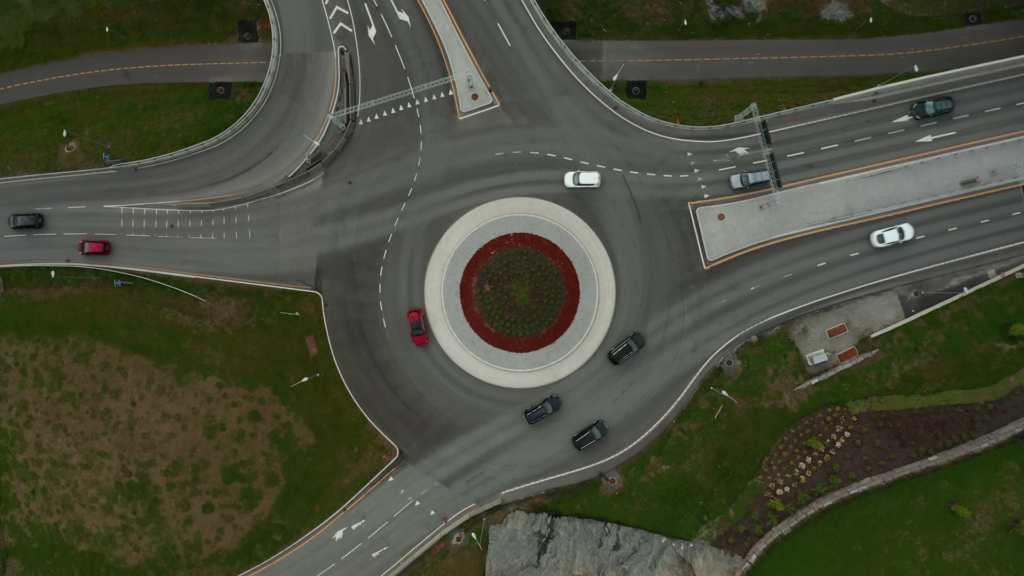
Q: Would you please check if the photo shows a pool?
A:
No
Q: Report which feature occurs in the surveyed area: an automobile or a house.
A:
automobile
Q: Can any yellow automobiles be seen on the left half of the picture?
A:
No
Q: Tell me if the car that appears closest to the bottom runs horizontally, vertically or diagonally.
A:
diagonally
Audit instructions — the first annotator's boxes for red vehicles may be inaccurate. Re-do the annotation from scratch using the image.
[78,240,111,257]
[408,308,428,346]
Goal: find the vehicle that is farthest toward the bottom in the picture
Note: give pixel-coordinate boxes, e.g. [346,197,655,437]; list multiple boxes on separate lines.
[572,420,608,451]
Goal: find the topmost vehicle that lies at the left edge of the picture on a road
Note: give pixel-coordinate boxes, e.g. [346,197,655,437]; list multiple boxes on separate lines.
[8,212,42,229]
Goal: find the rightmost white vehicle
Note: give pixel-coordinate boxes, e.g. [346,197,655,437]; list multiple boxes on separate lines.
[871,225,912,246]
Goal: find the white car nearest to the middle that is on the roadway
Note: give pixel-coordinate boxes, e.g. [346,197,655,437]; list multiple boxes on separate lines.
[564,170,600,188]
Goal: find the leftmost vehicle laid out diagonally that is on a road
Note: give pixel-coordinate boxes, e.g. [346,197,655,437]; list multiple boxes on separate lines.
[524,395,561,425]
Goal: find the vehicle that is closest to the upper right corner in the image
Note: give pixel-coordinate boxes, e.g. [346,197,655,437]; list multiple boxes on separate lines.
[910,98,952,120]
